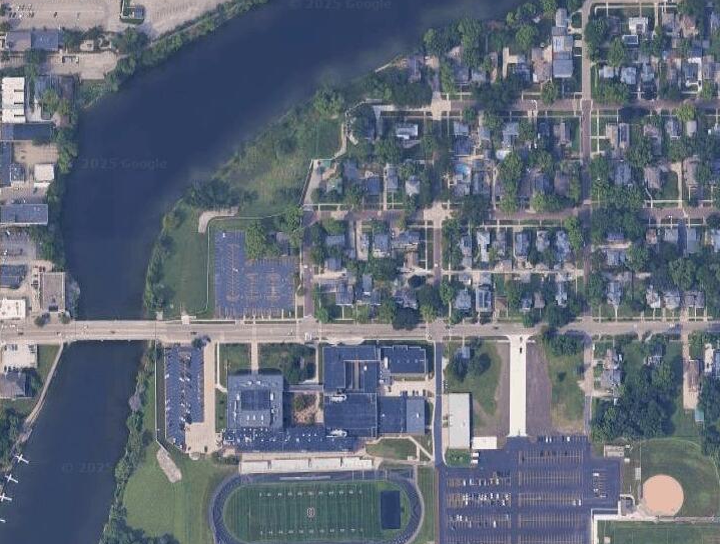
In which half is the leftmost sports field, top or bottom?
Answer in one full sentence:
The bottom half of the photo is where the leftmost sports field is.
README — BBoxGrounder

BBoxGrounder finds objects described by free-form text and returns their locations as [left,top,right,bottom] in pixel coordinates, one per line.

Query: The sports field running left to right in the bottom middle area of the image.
[225,481,412,543]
